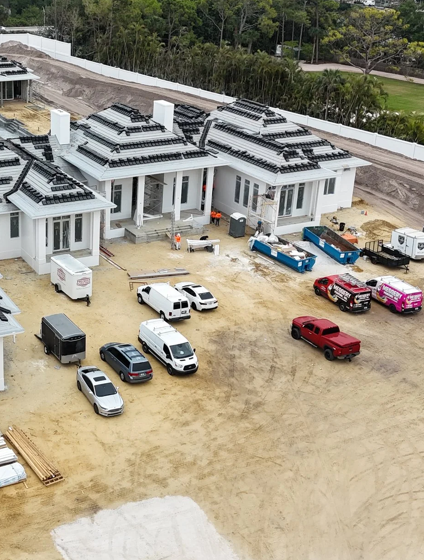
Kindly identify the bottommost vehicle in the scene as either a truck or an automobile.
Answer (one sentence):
The bottommost vehicle can be classified as an automobile.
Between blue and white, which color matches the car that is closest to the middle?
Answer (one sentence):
The car that is closest to the middle looks white in the image.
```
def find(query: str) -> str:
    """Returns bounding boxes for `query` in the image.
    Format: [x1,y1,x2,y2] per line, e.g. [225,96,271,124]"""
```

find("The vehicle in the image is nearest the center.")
[172,280,215,309]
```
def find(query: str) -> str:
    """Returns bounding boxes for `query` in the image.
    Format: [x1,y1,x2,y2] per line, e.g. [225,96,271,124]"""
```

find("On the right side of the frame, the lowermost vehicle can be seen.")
[285,317,364,363]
